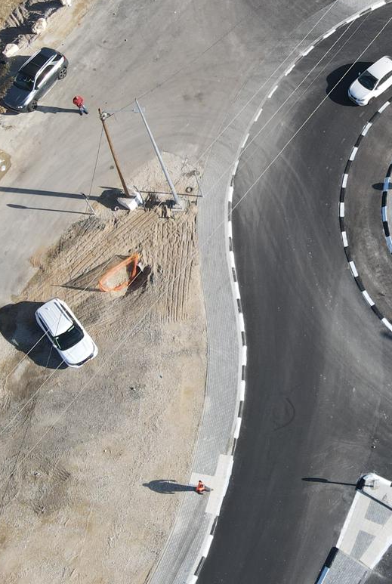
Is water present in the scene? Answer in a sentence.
No, water can't be seen anywhere here.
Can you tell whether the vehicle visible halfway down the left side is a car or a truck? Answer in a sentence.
I'd say the vehicle visible halfway down the left side is a car.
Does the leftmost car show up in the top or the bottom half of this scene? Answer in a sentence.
The top half of the photo is where the leftmost car is.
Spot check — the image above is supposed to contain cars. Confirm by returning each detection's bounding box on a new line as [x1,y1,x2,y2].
[0,46,66,114]
[33,296,103,369]
[346,52,392,105]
